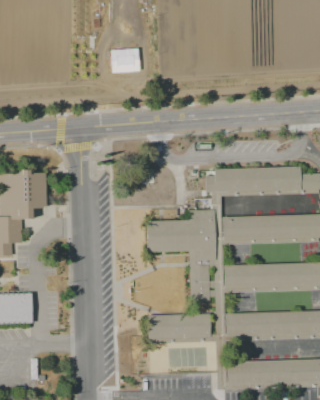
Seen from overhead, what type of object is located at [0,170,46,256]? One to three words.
building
